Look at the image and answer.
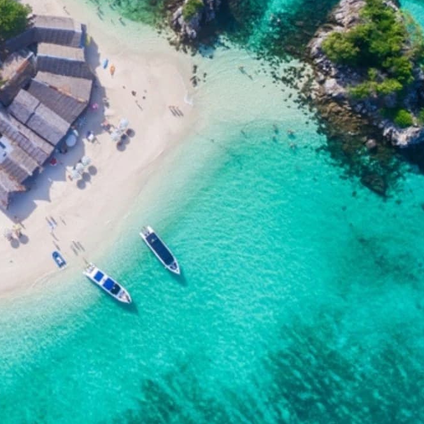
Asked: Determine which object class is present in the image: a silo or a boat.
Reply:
boat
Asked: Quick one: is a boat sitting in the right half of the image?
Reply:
No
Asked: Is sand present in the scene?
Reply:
Yes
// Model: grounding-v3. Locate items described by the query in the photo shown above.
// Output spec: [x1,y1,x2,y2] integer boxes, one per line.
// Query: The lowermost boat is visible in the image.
[80,262,131,305]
